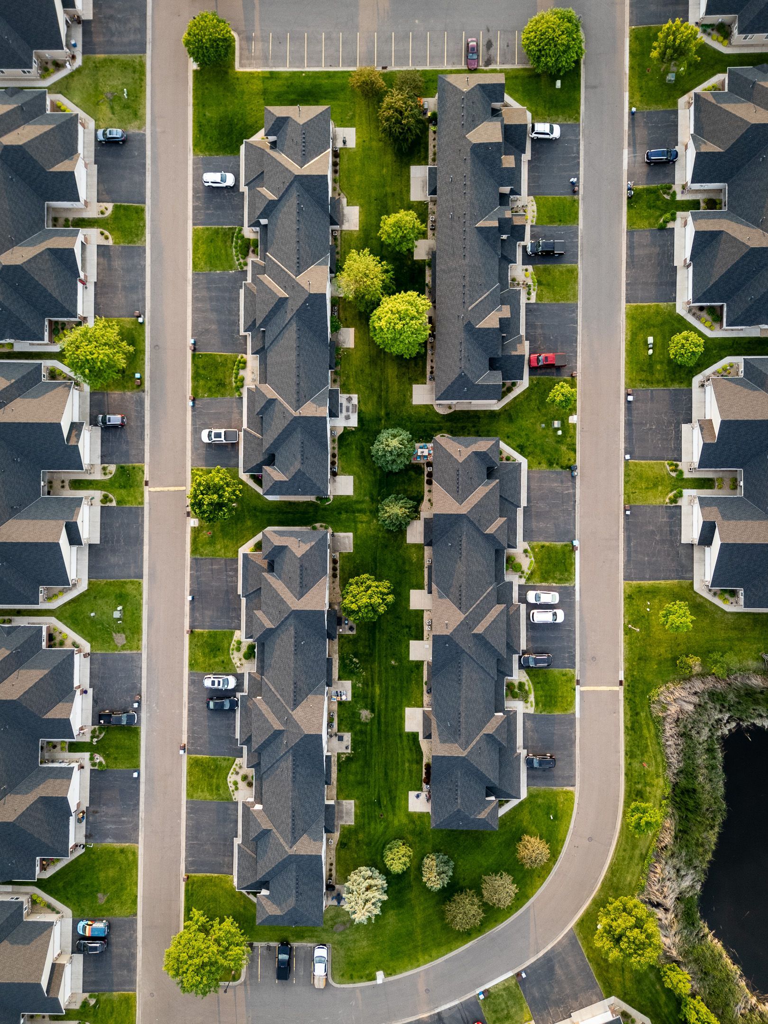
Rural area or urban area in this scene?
urban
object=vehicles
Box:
[98,710,139,727]
[77,919,111,939]
[202,171,235,189]
[520,653,553,669]
[276,939,292,982]
[528,352,568,368]
[97,127,128,145]
[466,37,480,72]
[529,122,560,140]
[643,147,678,166]
[206,697,238,712]
[525,753,556,770]
[526,239,566,257]
[526,590,559,605]
[312,943,328,979]
[77,938,109,956]
[203,675,237,691]
[96,413,128,428]
[529,609,564,625]
[202,428,240,444]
